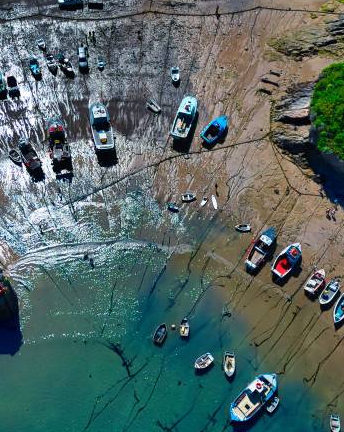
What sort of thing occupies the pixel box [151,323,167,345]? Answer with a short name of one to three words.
boat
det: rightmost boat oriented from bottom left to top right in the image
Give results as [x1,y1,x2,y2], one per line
[317,277,340,305]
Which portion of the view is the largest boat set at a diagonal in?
bottom right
